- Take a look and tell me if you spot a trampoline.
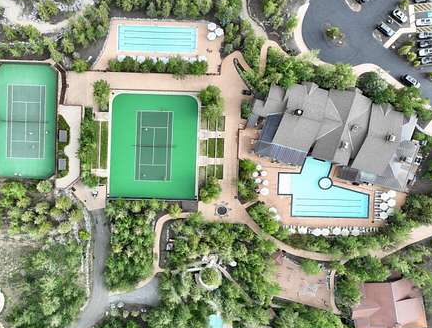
No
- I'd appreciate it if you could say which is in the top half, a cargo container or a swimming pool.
swimming pool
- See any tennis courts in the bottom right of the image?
No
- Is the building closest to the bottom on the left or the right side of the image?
right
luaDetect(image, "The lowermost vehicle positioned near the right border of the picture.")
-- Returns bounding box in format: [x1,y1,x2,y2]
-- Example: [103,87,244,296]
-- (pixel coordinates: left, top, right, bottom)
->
[402,73,419,88]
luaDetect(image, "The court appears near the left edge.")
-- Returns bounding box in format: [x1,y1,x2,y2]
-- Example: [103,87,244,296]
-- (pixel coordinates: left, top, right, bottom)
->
[0,61,57,179]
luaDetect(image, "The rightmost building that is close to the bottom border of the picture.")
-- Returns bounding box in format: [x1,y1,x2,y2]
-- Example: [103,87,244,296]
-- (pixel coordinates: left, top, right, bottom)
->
[350,276,427,328]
